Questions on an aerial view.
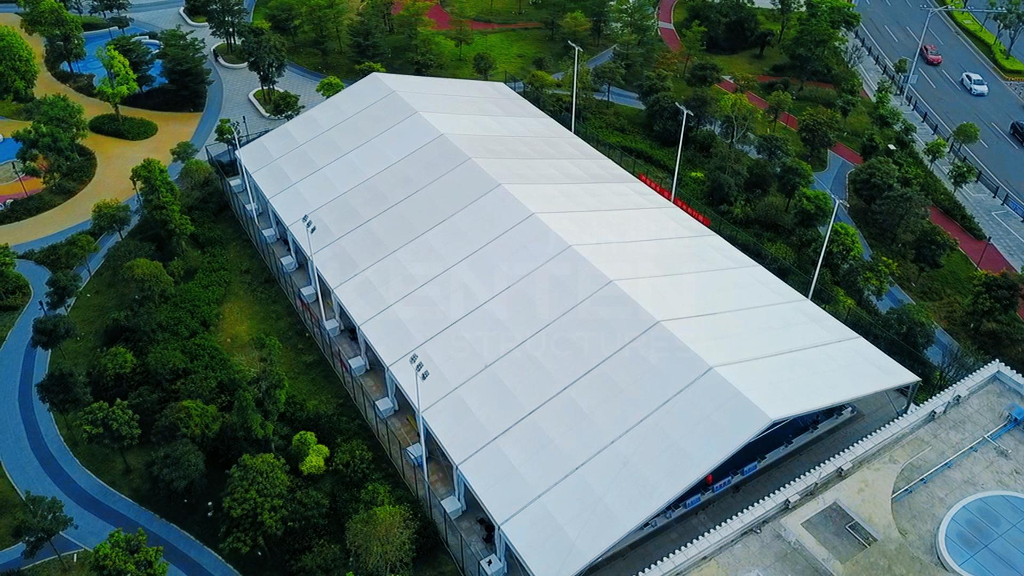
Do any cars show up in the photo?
Yes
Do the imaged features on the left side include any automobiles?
No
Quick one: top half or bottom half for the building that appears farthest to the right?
bottom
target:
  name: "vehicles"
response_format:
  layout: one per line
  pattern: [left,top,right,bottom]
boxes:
[960,74,989,95]
[920,46,944,65]
[1004,119,1024,143]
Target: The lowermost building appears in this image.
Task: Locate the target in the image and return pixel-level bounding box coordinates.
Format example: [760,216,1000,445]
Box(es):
[635,359,1024,576]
